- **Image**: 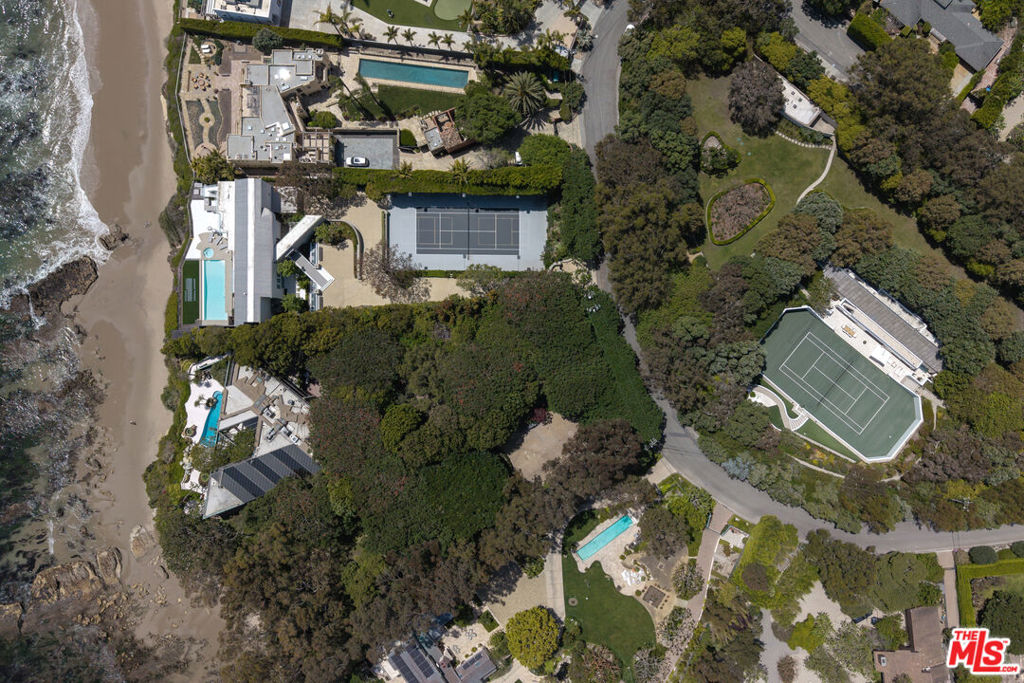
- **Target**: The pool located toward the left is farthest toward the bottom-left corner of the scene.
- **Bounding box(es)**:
[199,390,223,448]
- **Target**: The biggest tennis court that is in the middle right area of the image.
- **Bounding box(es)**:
[756,304,925,465]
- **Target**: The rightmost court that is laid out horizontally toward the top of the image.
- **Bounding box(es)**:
[388,195,548,271]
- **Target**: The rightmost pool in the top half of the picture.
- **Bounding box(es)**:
[357,57,470,90]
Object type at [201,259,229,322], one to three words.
swimming pool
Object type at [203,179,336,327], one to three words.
house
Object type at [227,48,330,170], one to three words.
house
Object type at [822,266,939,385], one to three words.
building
